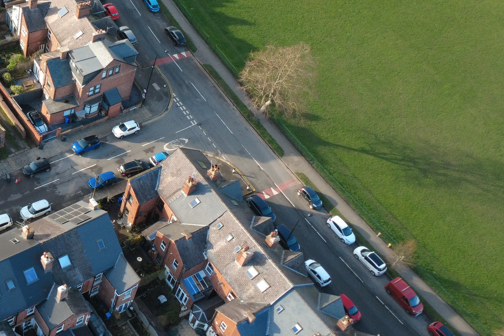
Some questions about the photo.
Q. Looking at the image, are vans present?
Yes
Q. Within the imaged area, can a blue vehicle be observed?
Yes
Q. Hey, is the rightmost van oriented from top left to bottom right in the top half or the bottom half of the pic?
bottom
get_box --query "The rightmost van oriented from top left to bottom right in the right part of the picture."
[382,274,424,318]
